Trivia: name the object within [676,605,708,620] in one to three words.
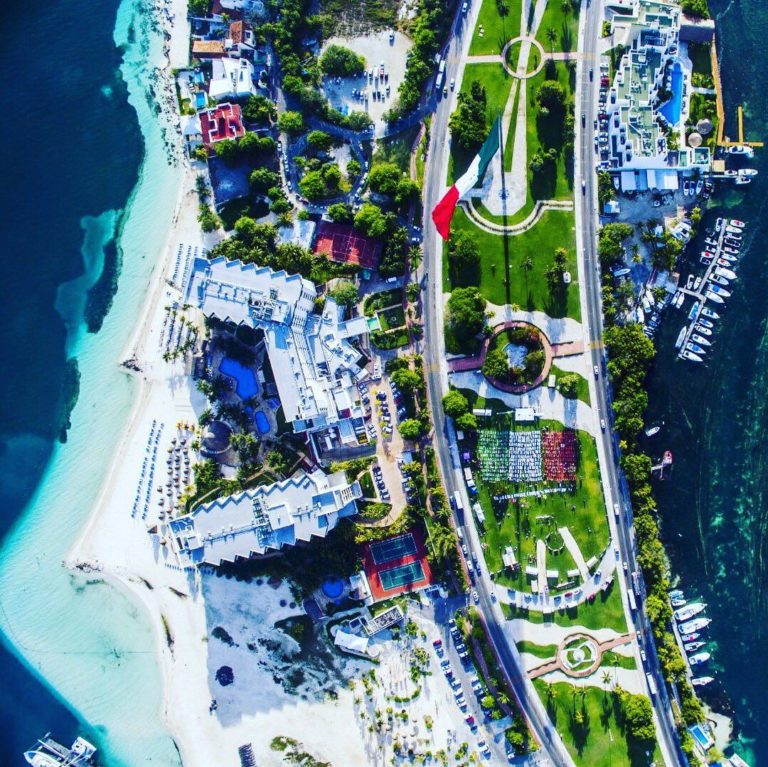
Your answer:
boat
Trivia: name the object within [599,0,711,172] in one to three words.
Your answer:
building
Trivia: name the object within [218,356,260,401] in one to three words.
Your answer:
swimming pool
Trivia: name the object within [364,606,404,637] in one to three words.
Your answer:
building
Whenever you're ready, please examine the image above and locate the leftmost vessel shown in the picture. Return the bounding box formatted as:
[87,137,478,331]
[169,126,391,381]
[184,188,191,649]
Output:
[23,730,98,767]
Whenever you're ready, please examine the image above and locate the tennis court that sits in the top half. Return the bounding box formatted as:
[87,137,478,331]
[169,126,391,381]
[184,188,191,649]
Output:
[314,219,383,270]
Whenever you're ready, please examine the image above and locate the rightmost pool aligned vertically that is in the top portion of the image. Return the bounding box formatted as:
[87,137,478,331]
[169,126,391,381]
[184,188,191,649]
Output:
[657,61,684,127]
